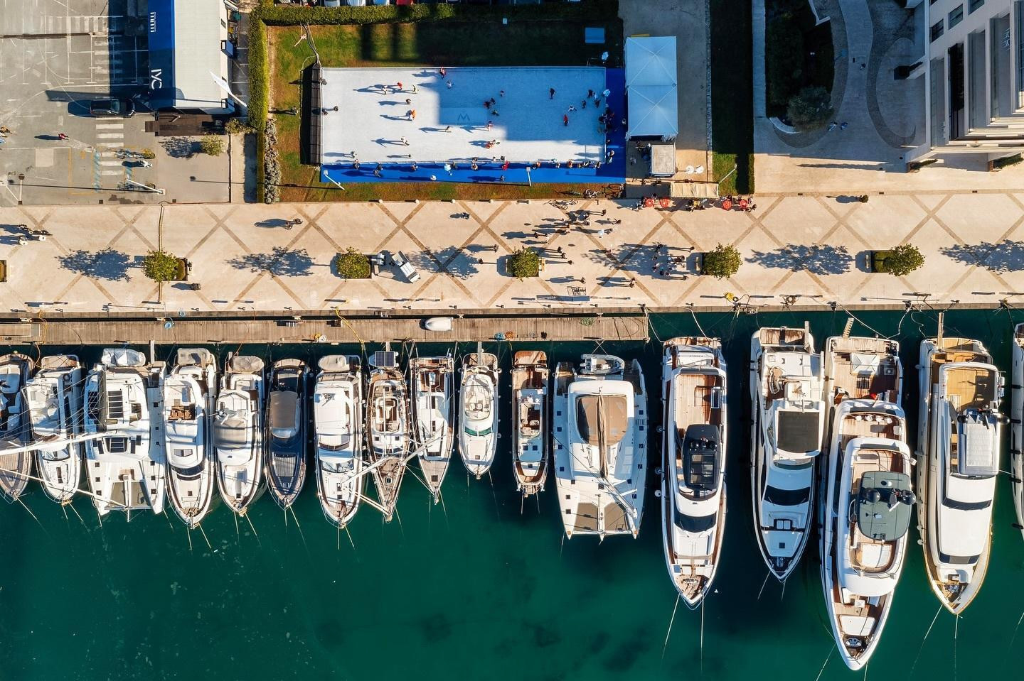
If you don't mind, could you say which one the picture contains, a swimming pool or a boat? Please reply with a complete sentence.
Visible in the photo is a boat.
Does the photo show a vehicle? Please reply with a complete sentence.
Yes, the image includes a vehicle.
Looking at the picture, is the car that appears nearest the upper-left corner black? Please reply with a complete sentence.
Yes, the car that appears nearest the upper-left corner is black.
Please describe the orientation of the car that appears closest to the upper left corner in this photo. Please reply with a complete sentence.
From this overhead view, the car that appears closest to the upper left corner appears to run from left to right.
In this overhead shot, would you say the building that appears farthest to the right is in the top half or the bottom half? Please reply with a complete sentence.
Seen from above, the building that appears farthest to the right lies in the top half of the view.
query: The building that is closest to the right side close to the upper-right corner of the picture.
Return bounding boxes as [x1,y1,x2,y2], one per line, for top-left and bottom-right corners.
[903,0,1024,166]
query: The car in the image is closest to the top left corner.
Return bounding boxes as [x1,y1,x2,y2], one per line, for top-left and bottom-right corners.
[85,93,133,117]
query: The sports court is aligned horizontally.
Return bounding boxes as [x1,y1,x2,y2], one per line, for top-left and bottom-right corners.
[319,63,626,183]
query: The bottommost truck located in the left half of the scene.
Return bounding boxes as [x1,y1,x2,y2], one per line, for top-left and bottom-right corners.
[390,252,415,282]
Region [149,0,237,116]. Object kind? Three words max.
building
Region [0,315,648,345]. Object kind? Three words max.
pier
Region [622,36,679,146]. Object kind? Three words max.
tent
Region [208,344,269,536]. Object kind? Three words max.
boat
